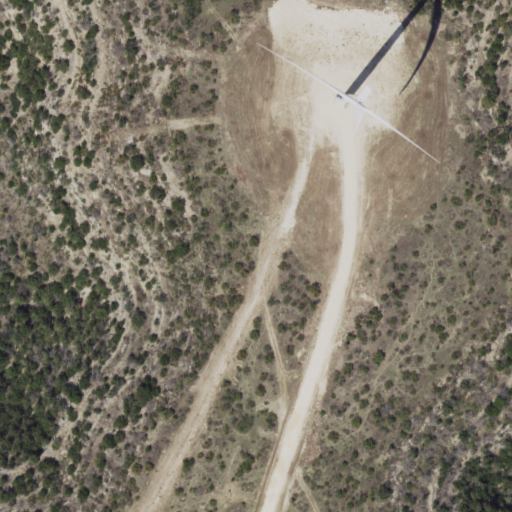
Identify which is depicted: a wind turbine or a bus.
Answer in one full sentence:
It is a wind turbine that can be seen here.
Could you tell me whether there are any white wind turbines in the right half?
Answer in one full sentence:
Yes, you'll find a white wind turbine in the right half.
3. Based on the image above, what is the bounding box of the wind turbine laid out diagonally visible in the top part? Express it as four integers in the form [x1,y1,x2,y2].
[255,41,442,164]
